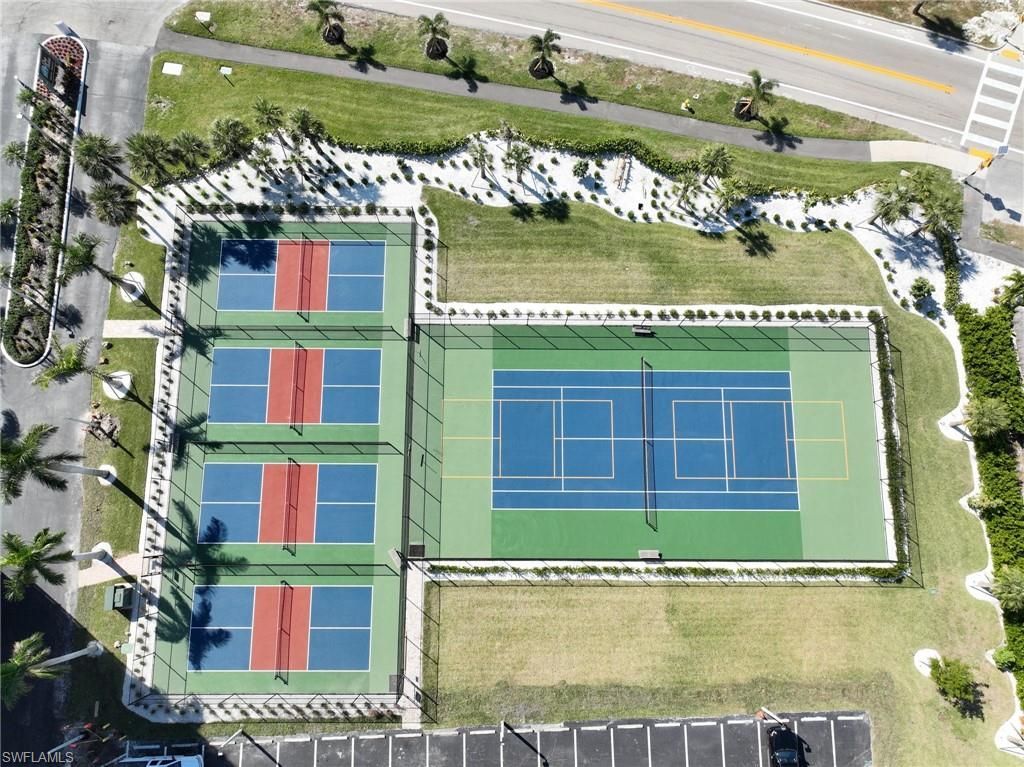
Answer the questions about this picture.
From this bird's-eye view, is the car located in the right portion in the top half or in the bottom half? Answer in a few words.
bottom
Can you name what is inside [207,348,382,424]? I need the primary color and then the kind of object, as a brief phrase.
blue sports court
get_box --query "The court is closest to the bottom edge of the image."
[187,585,373,671]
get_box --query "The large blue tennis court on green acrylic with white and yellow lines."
[406,325,889,560]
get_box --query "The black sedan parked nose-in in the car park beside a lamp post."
[771,729,805,767]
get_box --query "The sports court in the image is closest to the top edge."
[217,239,386,312]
